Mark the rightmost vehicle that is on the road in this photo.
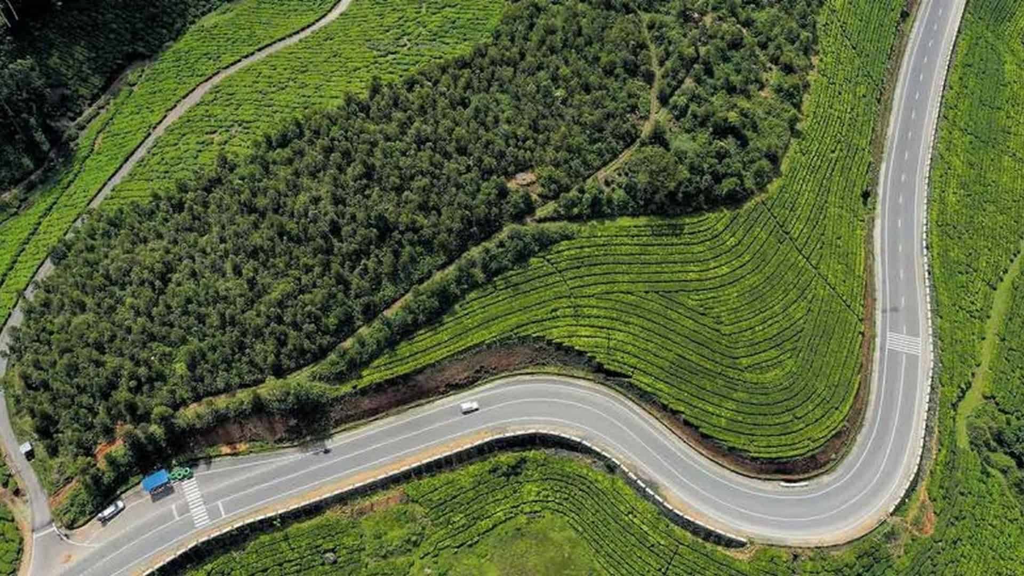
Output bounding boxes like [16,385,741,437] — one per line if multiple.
[461,403,480,416]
